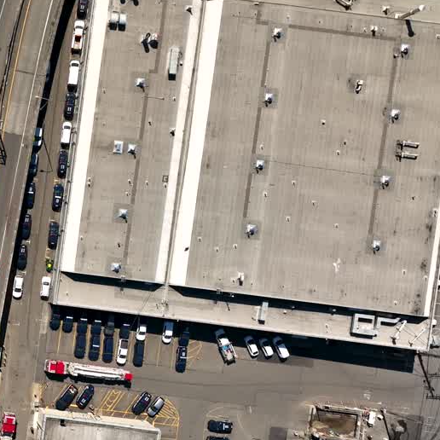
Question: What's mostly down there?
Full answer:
For the most part, this view shows buildings.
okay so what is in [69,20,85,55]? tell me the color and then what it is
white vehicle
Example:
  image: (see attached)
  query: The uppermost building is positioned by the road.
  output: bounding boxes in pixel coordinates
[46,0,440,351]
